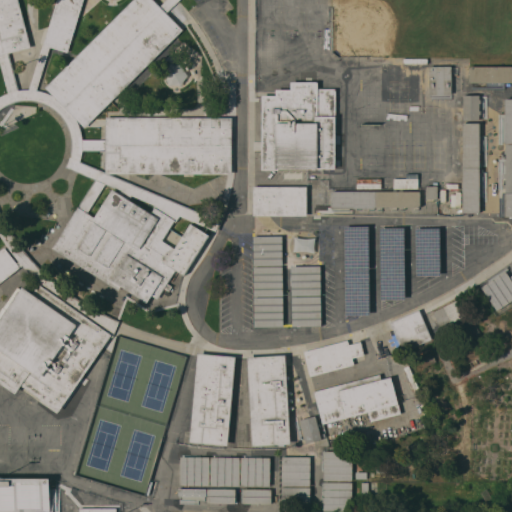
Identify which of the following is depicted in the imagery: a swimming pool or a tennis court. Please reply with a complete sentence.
Visible in the photo is a tennis court.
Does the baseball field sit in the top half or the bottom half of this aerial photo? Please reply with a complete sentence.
The baseball field is in the top half of the image.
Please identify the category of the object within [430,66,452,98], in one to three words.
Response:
building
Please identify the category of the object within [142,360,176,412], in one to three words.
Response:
tennis court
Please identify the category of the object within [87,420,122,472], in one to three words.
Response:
tennis court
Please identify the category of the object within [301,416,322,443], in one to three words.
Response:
shed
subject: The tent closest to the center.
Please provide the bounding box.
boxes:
[294,238,316,253]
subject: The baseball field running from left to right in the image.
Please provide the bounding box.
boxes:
[332,0,512,66]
